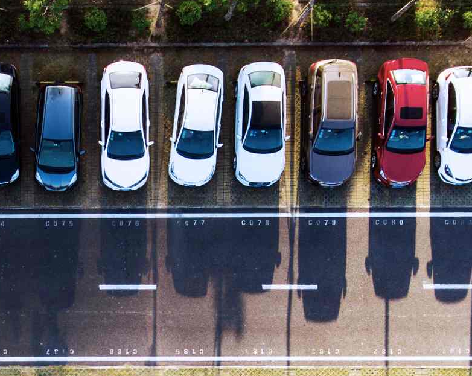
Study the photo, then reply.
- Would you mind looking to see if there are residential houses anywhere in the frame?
No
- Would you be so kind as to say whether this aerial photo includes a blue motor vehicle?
Yes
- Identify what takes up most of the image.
paved ground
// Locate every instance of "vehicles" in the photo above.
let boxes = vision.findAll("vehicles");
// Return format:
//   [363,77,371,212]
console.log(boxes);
[169,63,223,188]
[437,66,472,186]
[31,83,84,193]
[0,63,20,186]
[375,58,436,187]
[237,62,293,186]
[306,59,367,186]
[97,61,153,190]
